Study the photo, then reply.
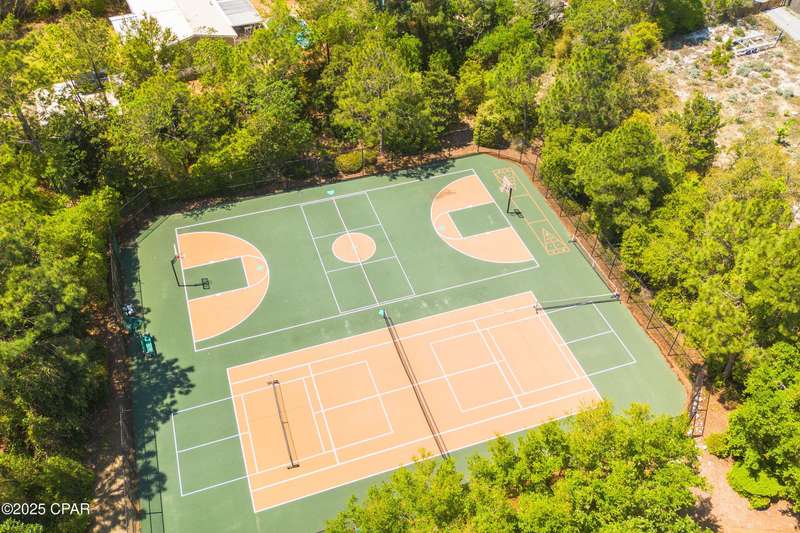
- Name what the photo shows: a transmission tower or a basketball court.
basketball court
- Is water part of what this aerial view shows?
No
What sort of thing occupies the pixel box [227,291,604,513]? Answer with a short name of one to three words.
tennis court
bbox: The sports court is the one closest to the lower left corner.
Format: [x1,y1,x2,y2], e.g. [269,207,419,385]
[172,360,394,496]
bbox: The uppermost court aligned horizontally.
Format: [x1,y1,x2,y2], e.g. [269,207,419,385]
[177,169,540,351]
